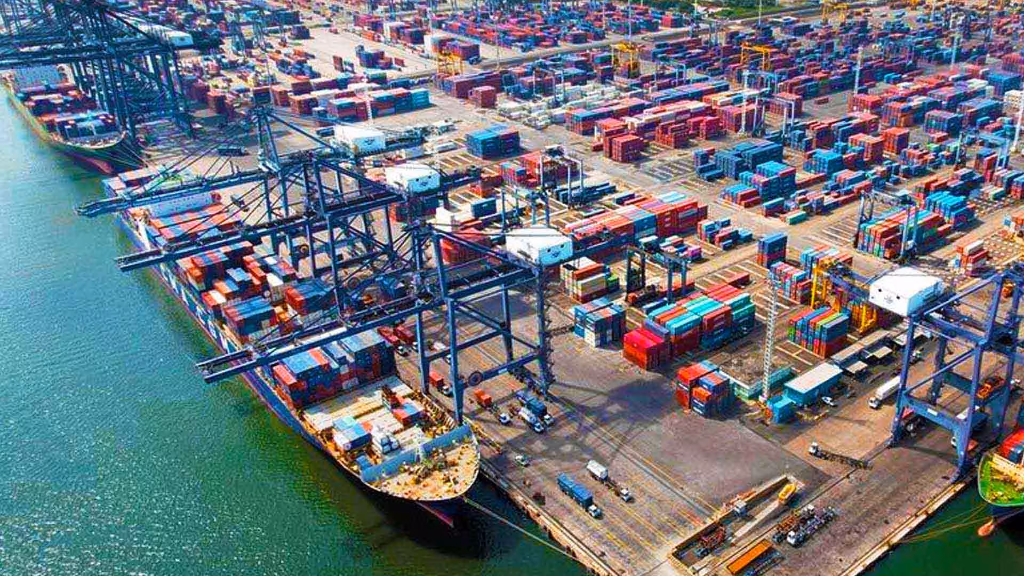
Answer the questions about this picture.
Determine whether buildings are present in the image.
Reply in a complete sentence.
Yes, this view includes a building.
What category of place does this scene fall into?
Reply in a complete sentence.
What you see here is a port.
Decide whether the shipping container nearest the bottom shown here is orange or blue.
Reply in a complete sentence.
The color of the shipping container nearest the bottom is orange.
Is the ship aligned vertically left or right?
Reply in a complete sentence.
It is on the right.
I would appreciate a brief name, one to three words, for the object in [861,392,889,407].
vehicle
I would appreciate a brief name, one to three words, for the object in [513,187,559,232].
container crane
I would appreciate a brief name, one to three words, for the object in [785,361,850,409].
building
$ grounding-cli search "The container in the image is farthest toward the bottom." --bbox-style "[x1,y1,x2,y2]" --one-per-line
[726,535,782,576]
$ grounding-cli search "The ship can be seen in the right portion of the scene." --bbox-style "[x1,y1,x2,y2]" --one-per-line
[972,415,1024,545]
